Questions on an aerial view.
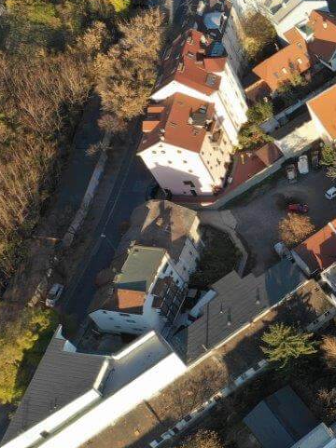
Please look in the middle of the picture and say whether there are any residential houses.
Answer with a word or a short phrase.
Yes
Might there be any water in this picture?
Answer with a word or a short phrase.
No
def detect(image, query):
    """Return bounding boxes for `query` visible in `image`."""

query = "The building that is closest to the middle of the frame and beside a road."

[117,200,211,284]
